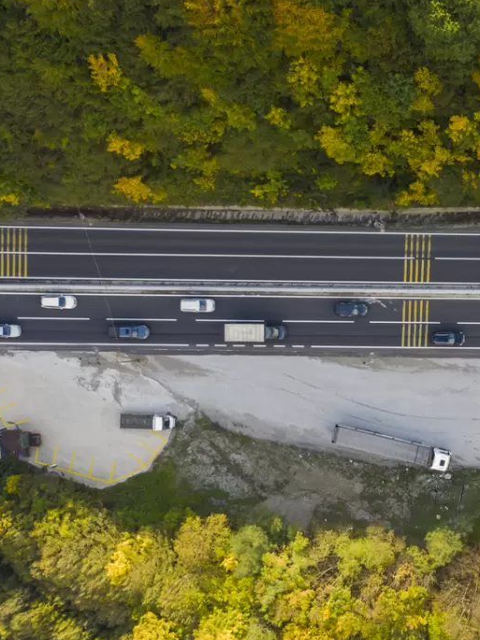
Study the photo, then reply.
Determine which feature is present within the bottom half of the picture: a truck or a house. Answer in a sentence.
The feature located within the bottom half of the picture is a truck.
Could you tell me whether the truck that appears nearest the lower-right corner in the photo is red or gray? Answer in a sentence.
The truck that appears nearest the lower-right corner is gray.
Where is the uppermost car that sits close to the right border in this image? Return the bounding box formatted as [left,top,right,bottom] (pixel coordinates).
[432,331,465,346]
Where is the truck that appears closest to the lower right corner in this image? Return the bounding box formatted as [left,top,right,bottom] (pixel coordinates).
[329,425,453,472]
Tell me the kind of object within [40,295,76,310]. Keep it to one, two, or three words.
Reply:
car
